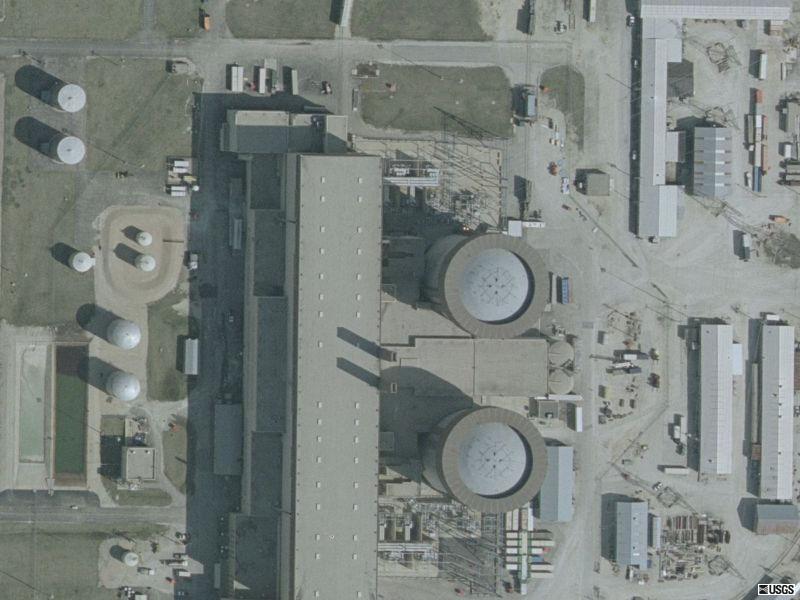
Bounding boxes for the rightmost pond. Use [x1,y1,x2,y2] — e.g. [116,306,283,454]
[55,343,89,489]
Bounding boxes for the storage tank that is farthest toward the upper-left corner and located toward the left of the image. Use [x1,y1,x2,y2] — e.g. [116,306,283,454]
[48,82,86,115]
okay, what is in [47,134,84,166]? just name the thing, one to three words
storage tank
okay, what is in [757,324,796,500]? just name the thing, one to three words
building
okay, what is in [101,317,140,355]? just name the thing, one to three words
storage tank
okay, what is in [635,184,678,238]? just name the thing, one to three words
building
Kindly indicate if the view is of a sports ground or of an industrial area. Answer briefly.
industrial area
